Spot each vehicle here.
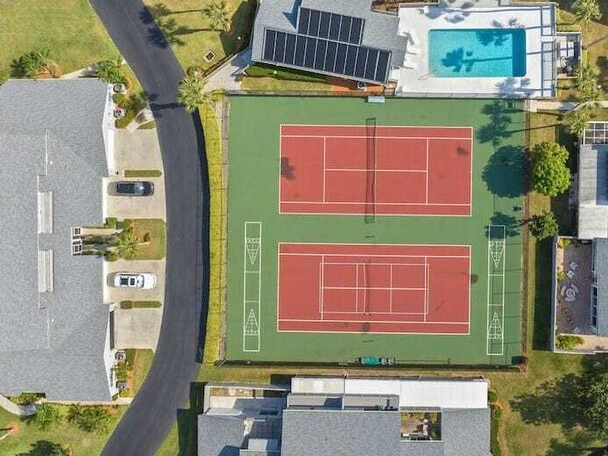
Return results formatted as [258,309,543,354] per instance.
[111,179,151,198]
[113,272,155,291]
